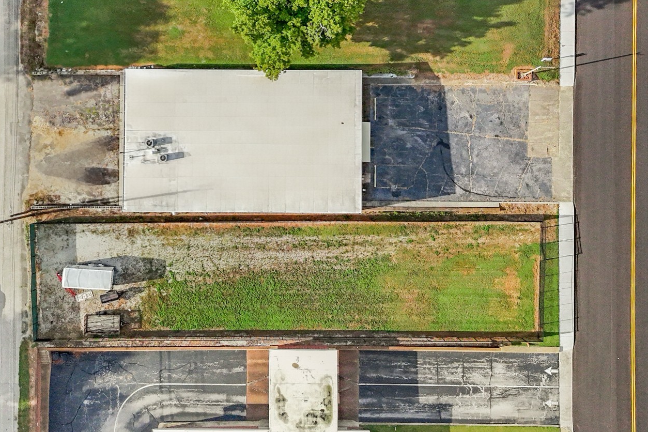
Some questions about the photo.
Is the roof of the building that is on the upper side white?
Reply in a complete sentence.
Yes, white is the color of the roof of the building that is on the upper side.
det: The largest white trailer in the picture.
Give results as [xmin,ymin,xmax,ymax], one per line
[58,261,115,297]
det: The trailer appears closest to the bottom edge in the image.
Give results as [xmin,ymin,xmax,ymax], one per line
[82,312,130,339]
